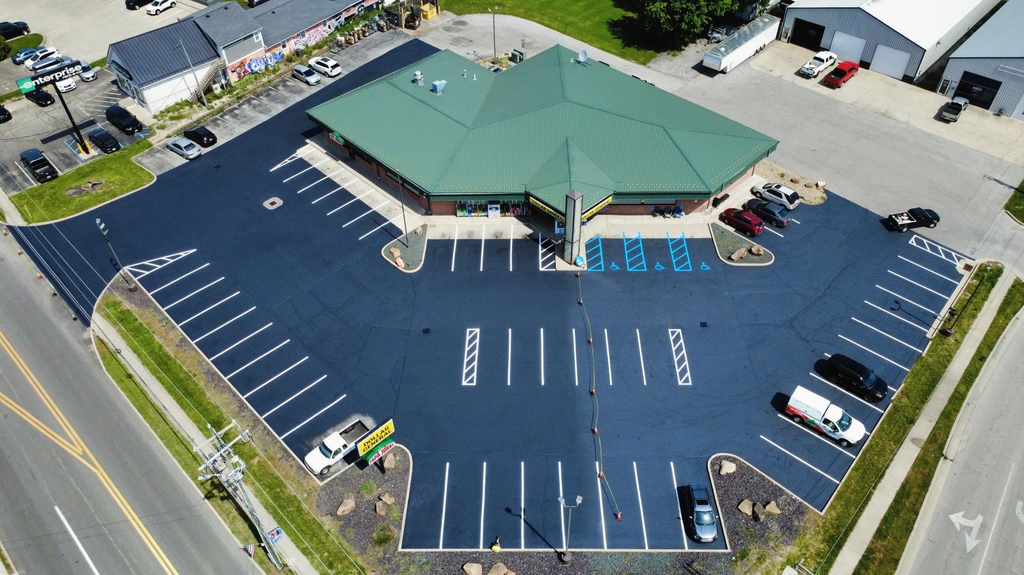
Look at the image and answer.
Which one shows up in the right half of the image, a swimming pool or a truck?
truck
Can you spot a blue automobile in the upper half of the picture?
Yes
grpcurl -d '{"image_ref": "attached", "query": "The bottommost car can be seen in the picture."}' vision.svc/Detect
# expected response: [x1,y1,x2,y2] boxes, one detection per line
[683,482,719,548]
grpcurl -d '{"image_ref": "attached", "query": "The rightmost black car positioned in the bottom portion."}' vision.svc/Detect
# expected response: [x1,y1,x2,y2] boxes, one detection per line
[818,353,889,404]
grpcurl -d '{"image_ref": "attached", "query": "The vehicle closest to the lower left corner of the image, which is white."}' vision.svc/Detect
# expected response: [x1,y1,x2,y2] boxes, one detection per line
[303,418,369,478]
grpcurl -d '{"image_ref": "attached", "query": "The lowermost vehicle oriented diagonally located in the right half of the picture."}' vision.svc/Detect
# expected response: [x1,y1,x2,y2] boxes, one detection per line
[785,381,869,450]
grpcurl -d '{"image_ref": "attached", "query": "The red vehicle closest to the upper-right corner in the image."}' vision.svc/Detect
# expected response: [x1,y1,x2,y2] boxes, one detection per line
[824,65,858,87]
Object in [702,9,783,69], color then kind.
white trailer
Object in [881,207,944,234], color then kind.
black truck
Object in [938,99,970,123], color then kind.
gray truck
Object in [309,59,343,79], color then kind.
white car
